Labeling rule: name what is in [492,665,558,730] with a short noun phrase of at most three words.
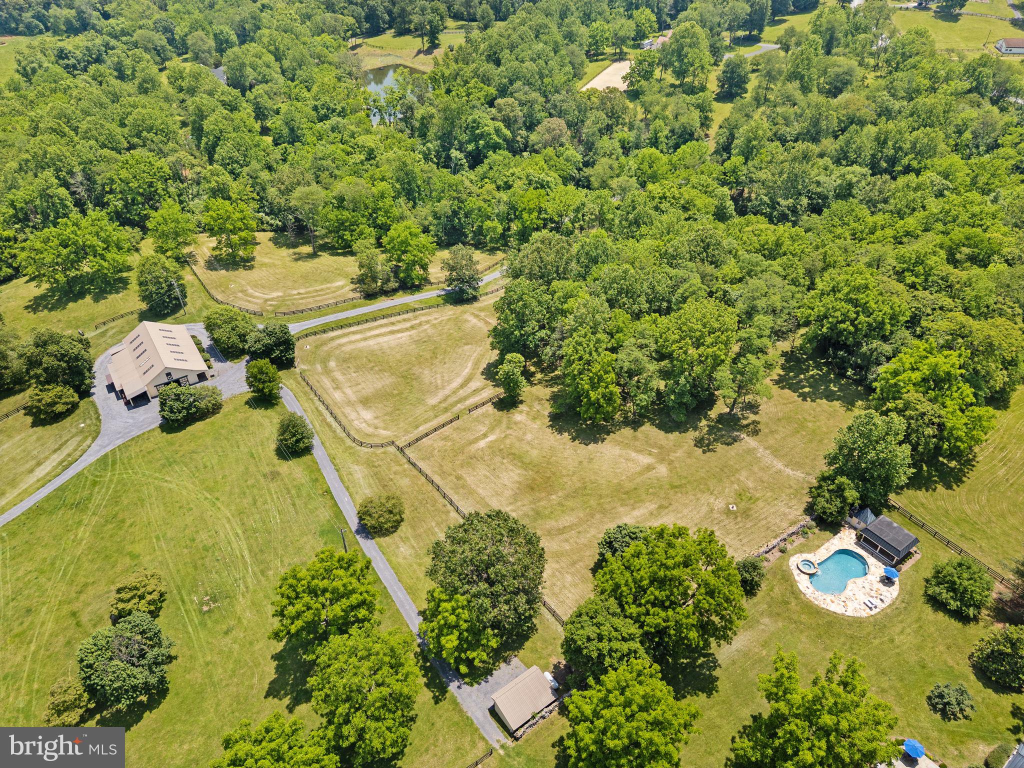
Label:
building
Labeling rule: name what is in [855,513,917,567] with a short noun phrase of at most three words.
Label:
building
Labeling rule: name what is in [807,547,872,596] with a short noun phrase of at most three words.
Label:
swimming pool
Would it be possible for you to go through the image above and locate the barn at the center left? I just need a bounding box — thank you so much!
[108,320,210,409]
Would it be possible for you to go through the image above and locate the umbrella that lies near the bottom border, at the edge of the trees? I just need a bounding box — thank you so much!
[904,740,924,760]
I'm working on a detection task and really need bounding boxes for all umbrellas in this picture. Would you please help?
[904,740,924,760]
[883,566,899,580]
